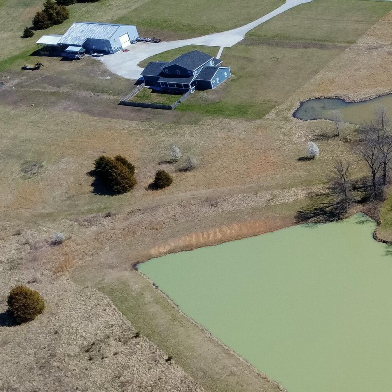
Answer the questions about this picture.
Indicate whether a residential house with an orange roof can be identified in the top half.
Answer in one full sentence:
No, no residential house with an orange roof is visible in the top half.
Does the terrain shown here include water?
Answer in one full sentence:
Yes, some water is visible.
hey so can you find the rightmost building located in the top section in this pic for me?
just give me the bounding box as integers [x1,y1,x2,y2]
[139,50,229,92]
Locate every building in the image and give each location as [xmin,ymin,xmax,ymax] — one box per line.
[54,21,140,55]
[139,50,229,92]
